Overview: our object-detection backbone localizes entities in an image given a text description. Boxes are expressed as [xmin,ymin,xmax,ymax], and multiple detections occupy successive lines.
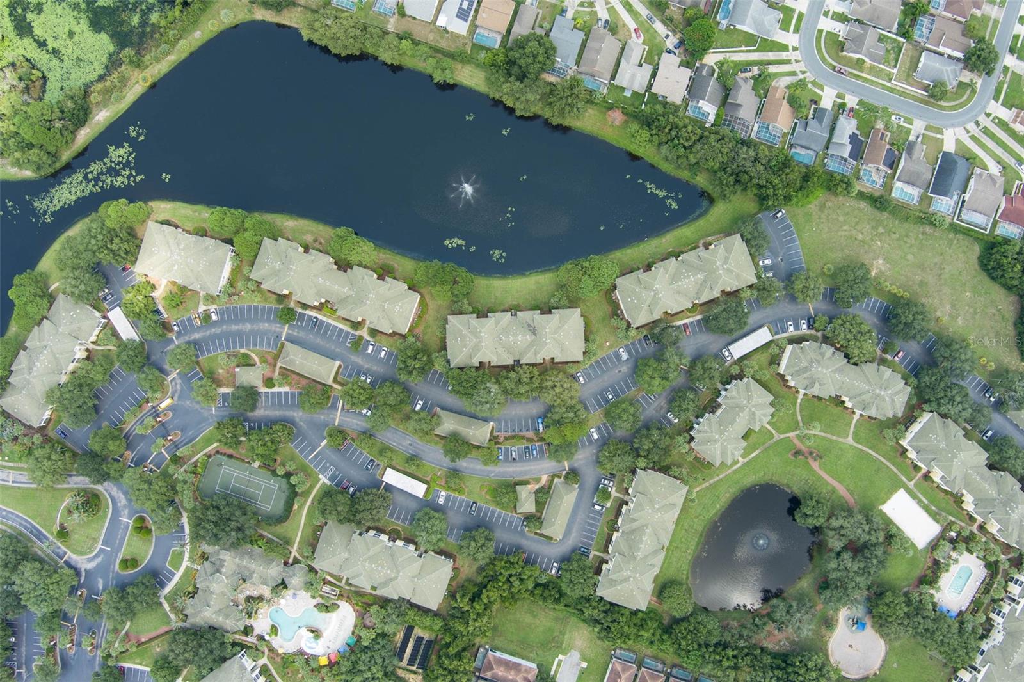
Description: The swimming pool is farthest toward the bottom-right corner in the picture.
[938,552,990,613]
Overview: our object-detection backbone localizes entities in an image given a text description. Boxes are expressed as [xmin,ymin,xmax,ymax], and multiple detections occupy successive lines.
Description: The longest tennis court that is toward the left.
[197,454,289,523]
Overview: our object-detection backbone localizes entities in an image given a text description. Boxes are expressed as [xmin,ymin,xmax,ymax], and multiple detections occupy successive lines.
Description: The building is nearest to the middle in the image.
[447,305,586,367]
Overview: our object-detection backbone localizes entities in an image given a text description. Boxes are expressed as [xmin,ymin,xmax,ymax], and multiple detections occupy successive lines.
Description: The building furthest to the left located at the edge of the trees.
[0,292,113,426]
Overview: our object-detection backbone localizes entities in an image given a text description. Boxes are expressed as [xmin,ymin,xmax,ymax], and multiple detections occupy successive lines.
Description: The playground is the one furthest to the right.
[828,605,888,679]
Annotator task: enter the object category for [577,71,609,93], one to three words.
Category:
swimming pool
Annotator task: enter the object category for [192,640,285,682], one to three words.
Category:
building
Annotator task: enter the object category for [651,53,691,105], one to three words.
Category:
house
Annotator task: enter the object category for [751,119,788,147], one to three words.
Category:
swimming pool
